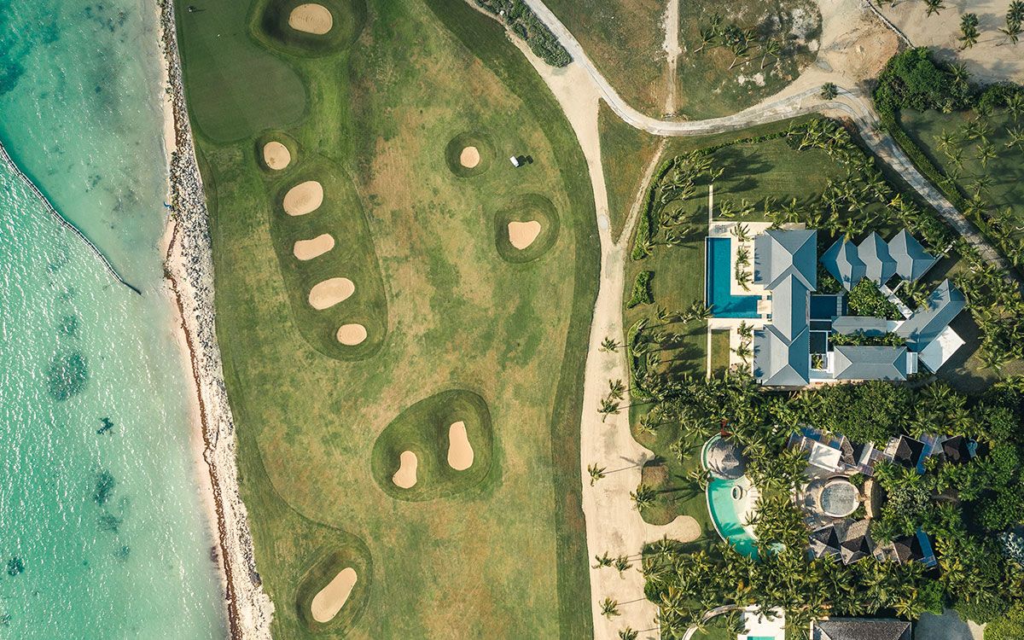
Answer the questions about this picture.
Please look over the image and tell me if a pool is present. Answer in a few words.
Yes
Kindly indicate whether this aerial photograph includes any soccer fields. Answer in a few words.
No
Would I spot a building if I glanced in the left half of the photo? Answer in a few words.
No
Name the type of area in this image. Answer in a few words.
golf course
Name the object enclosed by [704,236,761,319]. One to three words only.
swimming pool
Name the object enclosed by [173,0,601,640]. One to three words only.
golf course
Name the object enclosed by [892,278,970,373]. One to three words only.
house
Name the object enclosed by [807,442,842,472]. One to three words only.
house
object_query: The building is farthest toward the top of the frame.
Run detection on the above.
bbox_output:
[817,228,935,289]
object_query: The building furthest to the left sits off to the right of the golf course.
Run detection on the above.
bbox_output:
[704,437,745,478]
